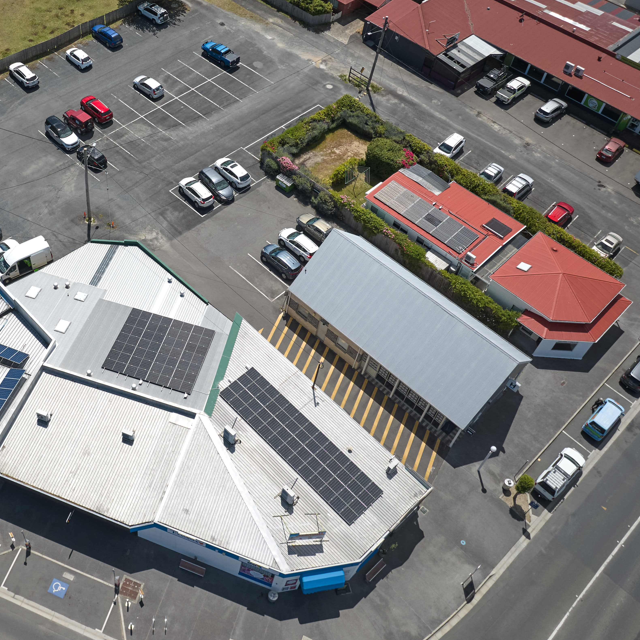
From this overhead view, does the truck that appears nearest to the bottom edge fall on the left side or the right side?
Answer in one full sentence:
The truck that appears nearest to the bottom edge is on the right side of the image.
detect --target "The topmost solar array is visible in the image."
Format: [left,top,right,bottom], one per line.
[375,181,478,253]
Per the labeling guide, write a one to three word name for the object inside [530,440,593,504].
truck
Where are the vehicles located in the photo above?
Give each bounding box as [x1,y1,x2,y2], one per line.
[211,156,255,189]
[173,176,218,211]
[274,224,322,261]
[64,47,94,70]
[78,95,114,123]
[492,75,535,103]
[539,196,583,226]
[194,164,237,203]
[532,96,571,123]
[593,136,629,163]
[199,39,243,68]
[578,393,630,445]
[504,169,540,195]
[437,128,470,159]
[58,105,96,135]
[530,440,593,504]
[587,227,631,263]
[288,208,349,243]
[90,24,124,48]
[472,66,514,94]
[0,230,55,280]
[43,116,79,149]
[72,143,112,171]
[483,157,513,181]
[616,352,640,396]
[8,62,41,90]
[256,240,308,278]
[134,74,168,98]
